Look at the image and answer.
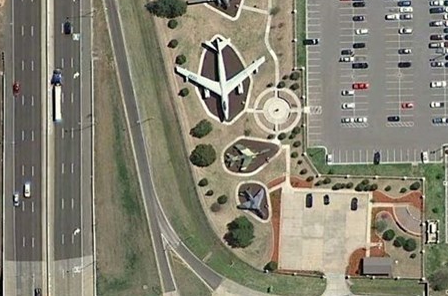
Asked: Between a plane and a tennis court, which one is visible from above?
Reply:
plane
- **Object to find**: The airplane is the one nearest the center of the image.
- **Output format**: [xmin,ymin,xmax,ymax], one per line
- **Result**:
[226,145,271,170]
